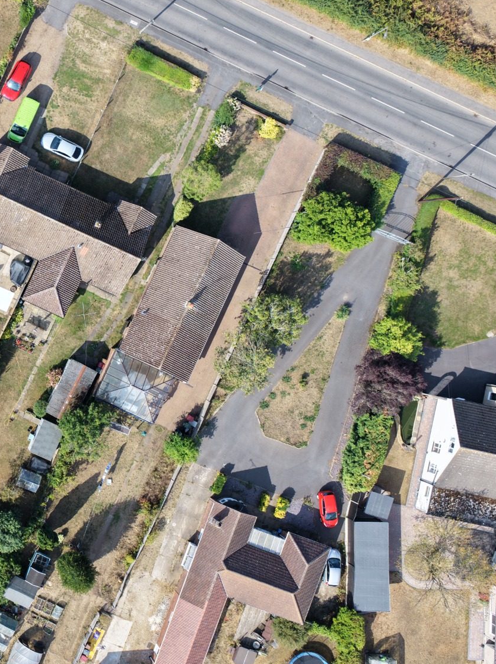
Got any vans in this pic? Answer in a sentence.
Yes, you can see a van in this photo.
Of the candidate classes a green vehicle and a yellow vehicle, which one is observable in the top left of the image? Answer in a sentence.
The feature located in the top left of the image is a green vehicle.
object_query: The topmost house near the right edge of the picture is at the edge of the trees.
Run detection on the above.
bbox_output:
[419,396,496,498]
